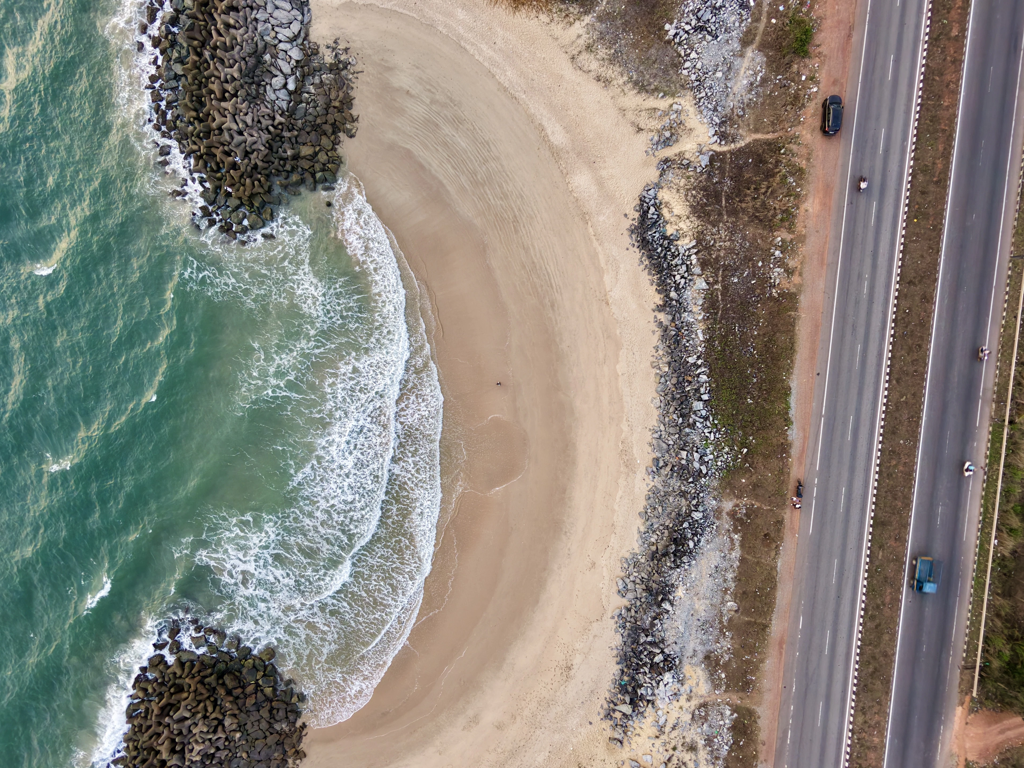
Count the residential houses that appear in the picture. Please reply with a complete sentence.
The photo contains no residential houses.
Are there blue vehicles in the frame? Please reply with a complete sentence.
Yes, there's a blue vehicle here.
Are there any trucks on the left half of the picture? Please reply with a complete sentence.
No, I can find no truck on the left half of the picture.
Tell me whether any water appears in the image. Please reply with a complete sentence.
Yes, some water is visible.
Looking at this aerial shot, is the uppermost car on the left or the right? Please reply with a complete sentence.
You can find the uppermost car on the right side of the picture.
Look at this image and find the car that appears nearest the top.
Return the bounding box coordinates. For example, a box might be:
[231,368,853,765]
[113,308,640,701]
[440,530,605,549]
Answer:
[823,94,846,135]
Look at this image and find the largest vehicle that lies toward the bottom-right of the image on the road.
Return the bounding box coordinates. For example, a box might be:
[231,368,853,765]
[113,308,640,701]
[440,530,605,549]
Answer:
[915,560,942,598]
